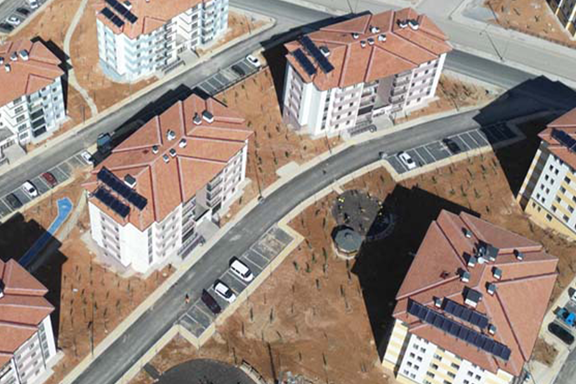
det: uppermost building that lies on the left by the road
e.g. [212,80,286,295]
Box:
[92,0,228,82]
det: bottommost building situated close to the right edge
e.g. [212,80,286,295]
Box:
[380,209,559,384]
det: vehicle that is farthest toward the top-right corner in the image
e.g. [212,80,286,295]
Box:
[443,133,461,151]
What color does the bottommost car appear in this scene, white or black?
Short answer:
black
